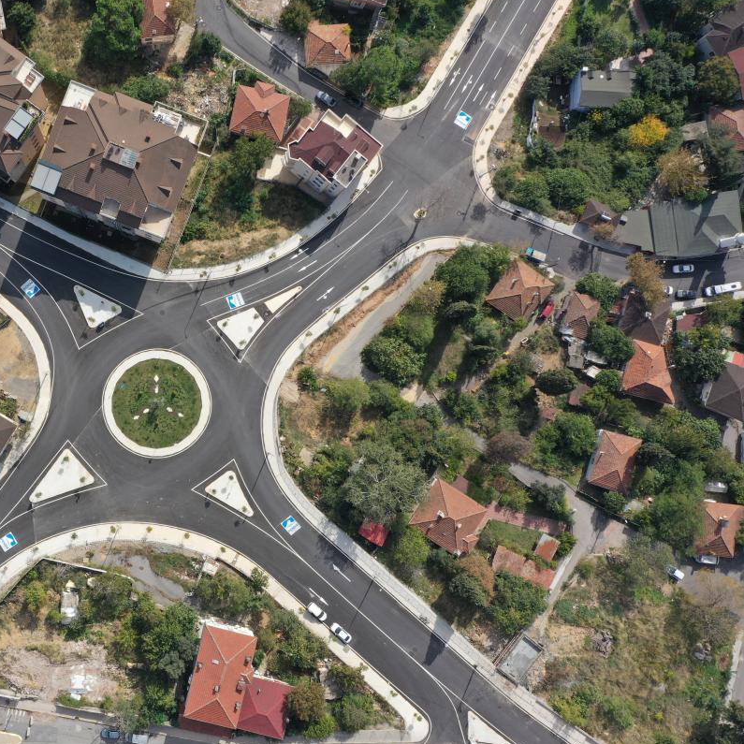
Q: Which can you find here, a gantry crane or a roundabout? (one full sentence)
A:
Looking from above, you can make out a roundabout.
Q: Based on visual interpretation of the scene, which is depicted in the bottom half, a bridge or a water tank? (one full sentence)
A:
Visible in the bottom half is a water tank.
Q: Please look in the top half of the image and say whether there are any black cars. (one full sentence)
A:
Yes, I can see a black car in the top half of the image.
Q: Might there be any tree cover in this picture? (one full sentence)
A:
Yes, the picture does contain tree cover.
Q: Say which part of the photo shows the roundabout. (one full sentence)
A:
The roundabout is located in the left region of the scene.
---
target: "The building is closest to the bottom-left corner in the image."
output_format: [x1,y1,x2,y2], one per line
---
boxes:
[63,595,78,619]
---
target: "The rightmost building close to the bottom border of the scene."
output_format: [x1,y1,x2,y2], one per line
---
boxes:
[236,664,295,740]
